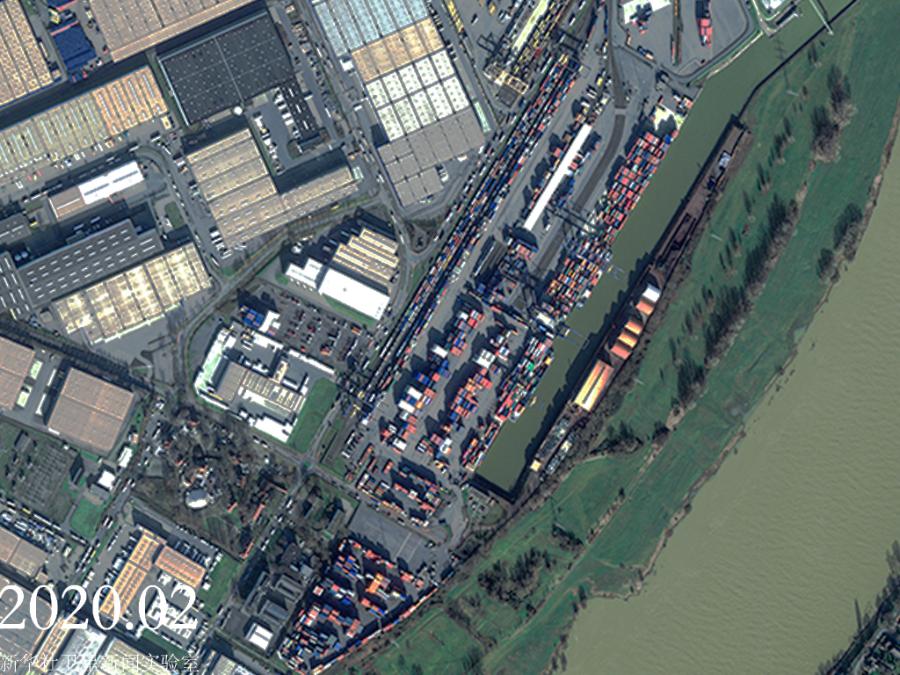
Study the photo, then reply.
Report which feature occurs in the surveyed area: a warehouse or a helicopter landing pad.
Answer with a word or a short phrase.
warehouse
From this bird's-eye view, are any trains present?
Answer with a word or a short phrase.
Yes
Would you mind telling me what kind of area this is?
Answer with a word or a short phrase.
port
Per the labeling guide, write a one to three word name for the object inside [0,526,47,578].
building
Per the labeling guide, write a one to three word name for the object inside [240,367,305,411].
building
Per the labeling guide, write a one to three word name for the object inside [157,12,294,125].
warehouse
